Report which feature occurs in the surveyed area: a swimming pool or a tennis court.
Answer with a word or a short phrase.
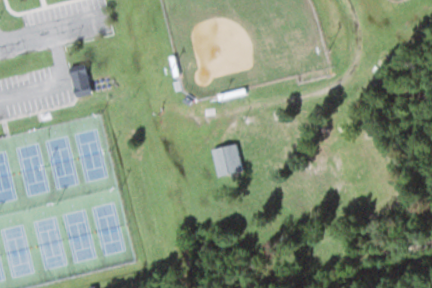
tennis court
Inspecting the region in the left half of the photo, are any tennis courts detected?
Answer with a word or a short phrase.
Yes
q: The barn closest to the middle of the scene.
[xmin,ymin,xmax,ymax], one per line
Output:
[212,144,243,178]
